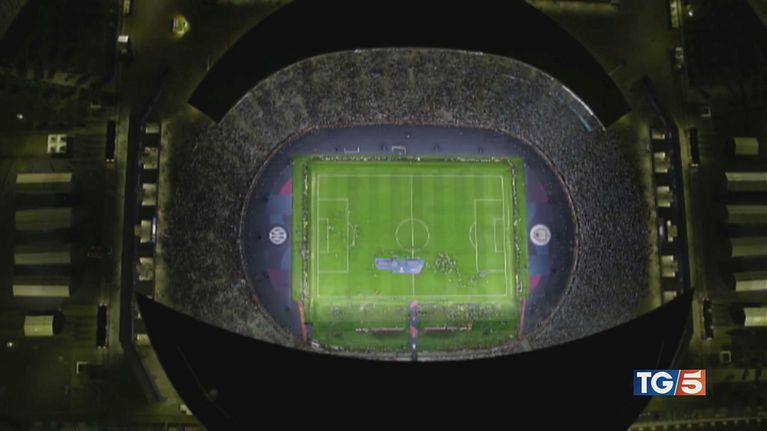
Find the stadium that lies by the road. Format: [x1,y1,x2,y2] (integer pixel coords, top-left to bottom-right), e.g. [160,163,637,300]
[135,0,693,431]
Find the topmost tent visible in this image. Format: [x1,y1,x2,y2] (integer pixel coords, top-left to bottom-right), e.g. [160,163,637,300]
[729,137,760,157]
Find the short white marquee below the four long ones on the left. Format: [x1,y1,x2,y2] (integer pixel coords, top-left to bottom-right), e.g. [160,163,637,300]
[21,315,60,336]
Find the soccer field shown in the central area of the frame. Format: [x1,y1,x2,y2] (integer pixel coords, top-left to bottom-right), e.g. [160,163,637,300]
[293,157,527,343]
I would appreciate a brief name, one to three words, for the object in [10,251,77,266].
tent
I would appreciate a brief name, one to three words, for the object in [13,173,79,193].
tent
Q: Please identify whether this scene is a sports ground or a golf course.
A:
sports ground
